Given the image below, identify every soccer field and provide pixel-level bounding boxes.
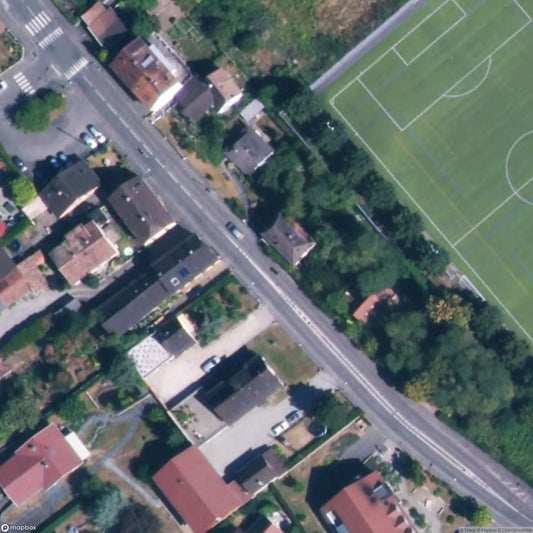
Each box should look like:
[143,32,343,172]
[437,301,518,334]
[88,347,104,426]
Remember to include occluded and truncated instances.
[314,0,533,361]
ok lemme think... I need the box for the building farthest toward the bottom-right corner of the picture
[321,471,416,533]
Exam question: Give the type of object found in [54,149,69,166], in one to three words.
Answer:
car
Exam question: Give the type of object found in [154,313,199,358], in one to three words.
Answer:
building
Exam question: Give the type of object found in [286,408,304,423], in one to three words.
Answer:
car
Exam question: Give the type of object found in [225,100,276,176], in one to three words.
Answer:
house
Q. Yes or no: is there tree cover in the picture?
Yes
